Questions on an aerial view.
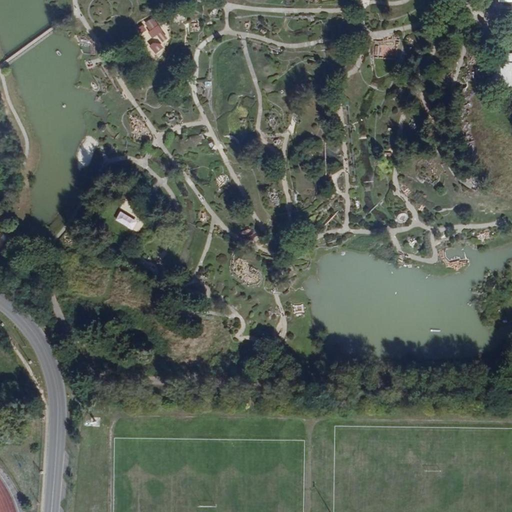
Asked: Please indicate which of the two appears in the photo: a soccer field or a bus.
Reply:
soccer field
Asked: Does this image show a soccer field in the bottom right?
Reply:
Yes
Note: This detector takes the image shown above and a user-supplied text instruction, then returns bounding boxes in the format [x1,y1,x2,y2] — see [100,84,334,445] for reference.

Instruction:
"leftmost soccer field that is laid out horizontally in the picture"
[112,437,304,512]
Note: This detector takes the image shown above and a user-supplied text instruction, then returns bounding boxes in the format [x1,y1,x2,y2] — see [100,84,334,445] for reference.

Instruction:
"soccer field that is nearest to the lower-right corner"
[334,426,512,512]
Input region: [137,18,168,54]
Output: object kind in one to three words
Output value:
building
